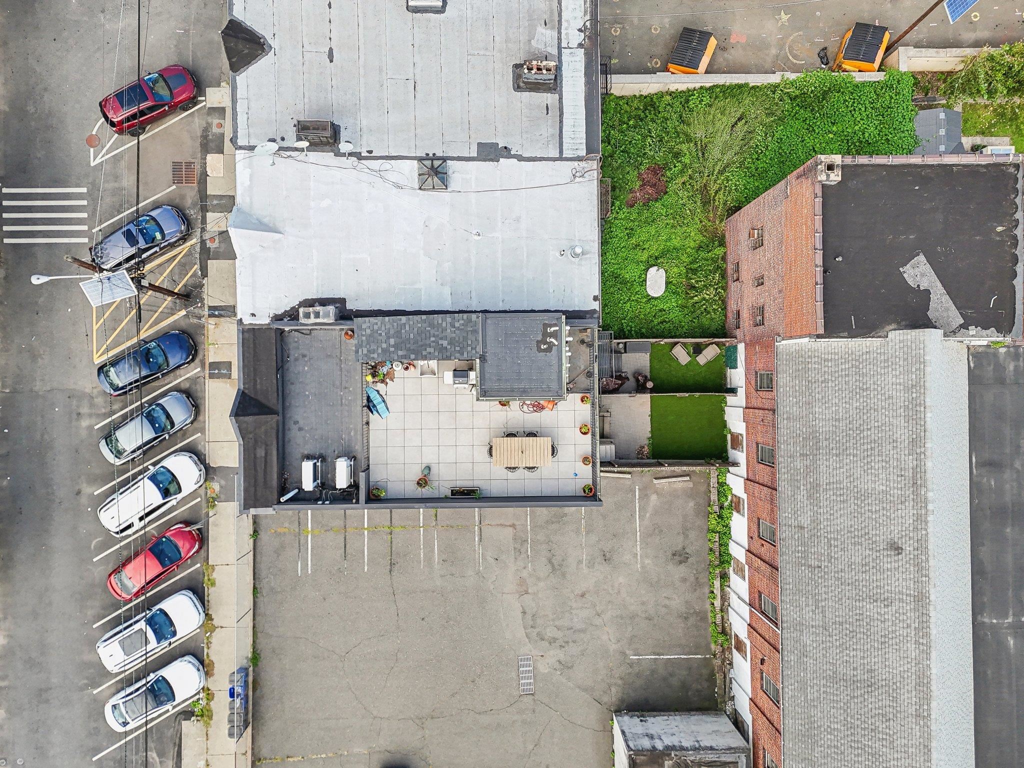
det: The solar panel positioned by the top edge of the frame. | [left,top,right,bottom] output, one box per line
[940,0,982,23]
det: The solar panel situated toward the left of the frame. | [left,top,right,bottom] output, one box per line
[81,269,136,308]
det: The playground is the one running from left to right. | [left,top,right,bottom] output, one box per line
[600,0,1024,90]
